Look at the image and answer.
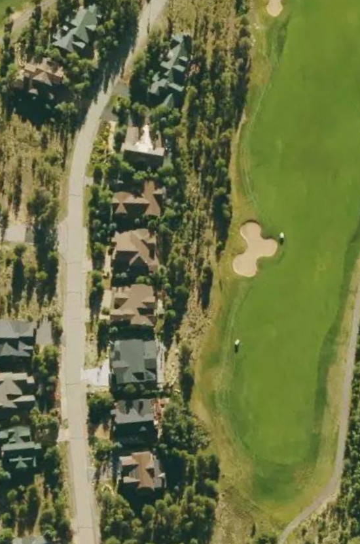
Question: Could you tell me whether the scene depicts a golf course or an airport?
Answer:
golf course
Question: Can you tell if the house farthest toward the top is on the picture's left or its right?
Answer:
left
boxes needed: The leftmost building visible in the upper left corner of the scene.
[19,59,66,93]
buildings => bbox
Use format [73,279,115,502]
[119,450,165,489]
[19,59,66,93]
[107,227,162,274]
[0,320,35,360]
[3,535,48,544]
[0,425,43,469]
[51,1,100,54]
[111,179,168,217]
[109,284,165,328]
[120,125,167,170]
[0,369,36,411]
[109,339,165,384]
[114,397,163,443]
